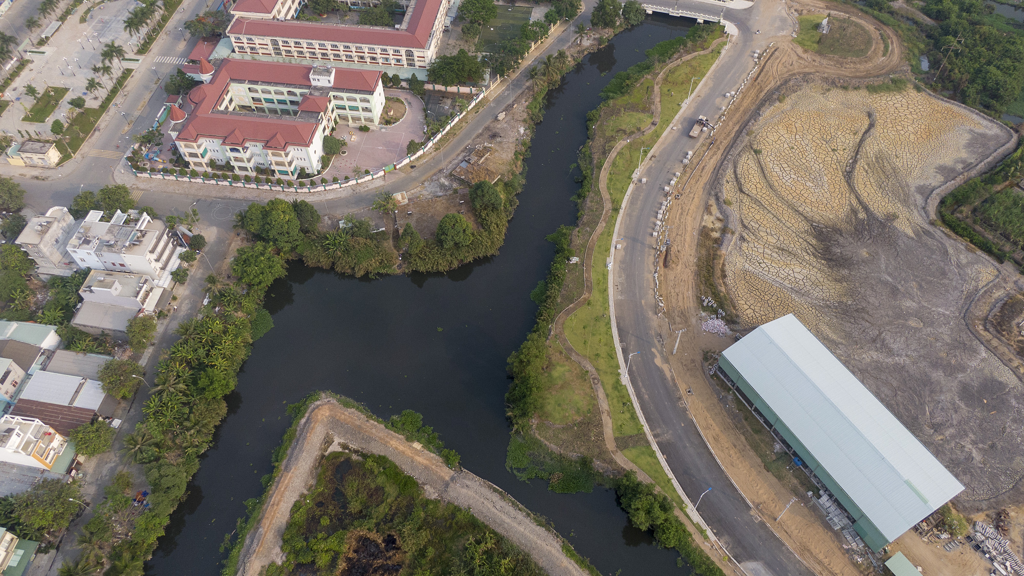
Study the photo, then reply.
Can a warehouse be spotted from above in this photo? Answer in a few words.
Yes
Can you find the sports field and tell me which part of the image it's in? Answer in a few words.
top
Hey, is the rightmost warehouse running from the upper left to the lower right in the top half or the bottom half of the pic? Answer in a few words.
bottom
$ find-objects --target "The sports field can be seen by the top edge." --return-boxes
[479,1,533,53]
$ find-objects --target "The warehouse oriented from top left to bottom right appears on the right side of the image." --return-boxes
[715,313,964,554]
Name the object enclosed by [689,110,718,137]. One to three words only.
truck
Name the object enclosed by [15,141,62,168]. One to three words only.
building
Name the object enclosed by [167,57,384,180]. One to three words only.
building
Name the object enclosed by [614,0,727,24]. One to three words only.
bridge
